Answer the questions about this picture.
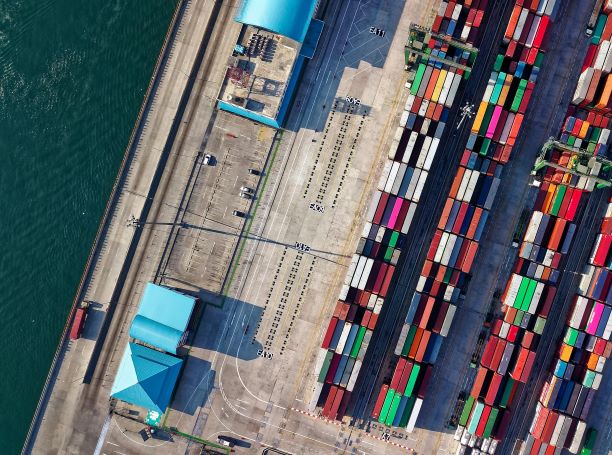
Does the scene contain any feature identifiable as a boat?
No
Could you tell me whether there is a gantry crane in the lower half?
No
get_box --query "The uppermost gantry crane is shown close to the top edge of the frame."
[402,19,481,92]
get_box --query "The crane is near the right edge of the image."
[528,132,612,195]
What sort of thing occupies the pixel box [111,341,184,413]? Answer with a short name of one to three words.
building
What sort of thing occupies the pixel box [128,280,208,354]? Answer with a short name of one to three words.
building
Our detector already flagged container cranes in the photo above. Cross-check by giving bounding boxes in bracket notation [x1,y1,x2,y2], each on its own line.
[528,132,612,195]
[402,19,481,92]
